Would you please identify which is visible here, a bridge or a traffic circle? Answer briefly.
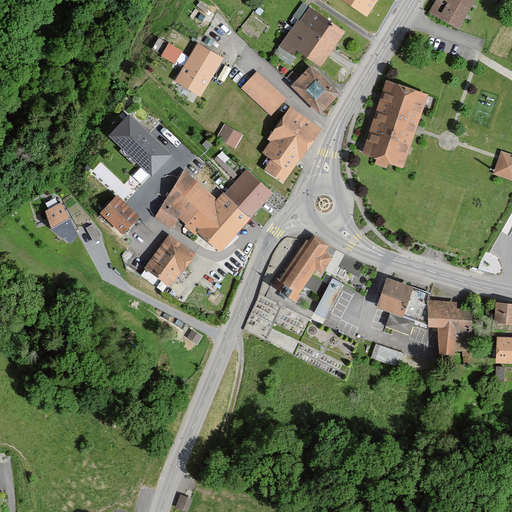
traffic circle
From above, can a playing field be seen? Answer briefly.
Yes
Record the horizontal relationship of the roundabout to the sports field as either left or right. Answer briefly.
on the left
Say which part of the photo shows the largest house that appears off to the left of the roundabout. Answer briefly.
center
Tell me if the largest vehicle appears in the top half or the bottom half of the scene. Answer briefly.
top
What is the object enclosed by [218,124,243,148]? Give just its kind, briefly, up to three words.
building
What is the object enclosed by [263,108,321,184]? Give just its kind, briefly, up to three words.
house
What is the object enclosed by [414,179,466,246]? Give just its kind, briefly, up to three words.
sports field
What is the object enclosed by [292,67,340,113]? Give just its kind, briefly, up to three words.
house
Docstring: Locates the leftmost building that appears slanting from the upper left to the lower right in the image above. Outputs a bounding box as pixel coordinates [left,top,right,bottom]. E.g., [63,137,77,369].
[46,204,78,244]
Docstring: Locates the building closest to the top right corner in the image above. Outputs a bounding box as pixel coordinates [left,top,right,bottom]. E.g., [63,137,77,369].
[429,0,476,30]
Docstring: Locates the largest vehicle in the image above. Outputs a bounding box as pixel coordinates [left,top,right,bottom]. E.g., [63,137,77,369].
[160,126,180,146]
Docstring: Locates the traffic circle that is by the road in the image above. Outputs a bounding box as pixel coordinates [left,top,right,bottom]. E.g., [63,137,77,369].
[296,175,354,233]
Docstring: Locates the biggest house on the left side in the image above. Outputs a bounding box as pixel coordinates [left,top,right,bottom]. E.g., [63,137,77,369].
[155,170,250,252]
